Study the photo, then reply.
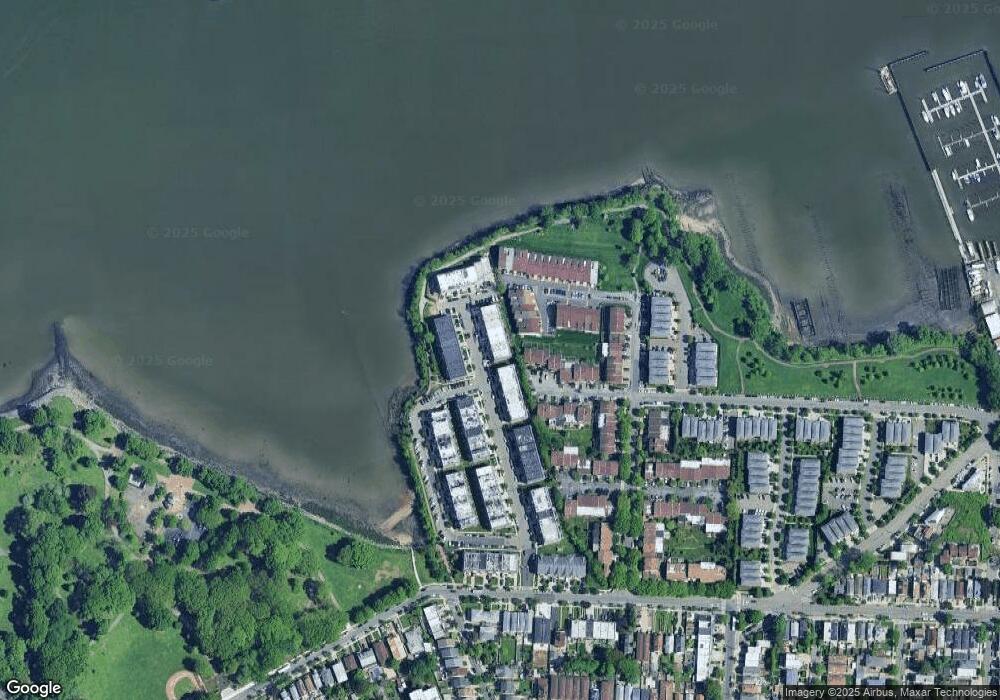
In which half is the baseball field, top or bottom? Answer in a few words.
bottom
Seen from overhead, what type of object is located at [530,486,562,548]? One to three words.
building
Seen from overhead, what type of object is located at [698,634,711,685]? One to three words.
house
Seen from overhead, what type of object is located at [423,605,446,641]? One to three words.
house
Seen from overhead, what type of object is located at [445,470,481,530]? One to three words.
building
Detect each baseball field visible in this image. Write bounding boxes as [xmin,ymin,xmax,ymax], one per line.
[168,673,208,700]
